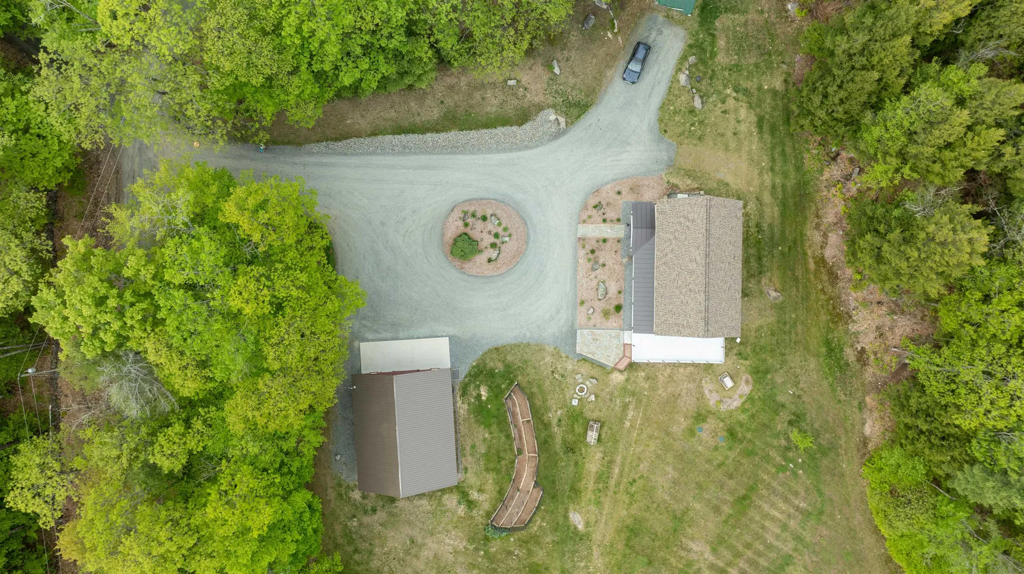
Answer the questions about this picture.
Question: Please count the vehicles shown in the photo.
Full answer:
I count 1 vehicle.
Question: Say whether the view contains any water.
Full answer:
No, there's no water in this view.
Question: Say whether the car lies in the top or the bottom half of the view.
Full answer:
Seen from above, the car lies in the top half of the view.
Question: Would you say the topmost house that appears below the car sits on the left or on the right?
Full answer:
The topmost house that appears below the car appears in the right half of the scene.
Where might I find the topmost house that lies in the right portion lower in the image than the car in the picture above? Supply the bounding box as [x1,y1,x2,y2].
[629,196,743,338]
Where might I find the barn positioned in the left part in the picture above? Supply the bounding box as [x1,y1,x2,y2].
[351,368,459,498]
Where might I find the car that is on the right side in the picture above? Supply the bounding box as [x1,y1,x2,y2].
[623,41,651,85]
